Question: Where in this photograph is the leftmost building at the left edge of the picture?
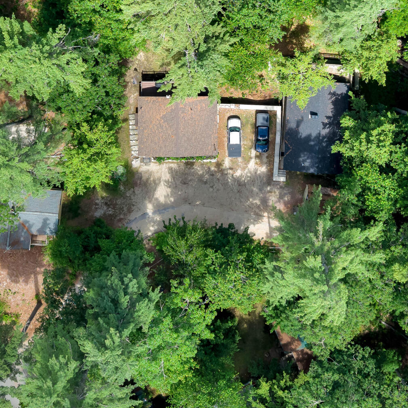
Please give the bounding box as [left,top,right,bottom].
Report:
[0,188,64,257]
